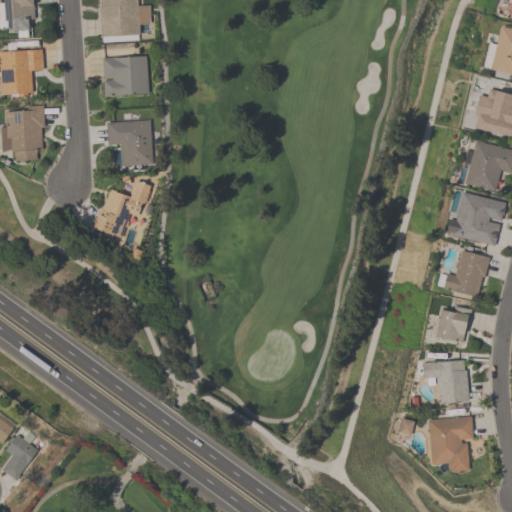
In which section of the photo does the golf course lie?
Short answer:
center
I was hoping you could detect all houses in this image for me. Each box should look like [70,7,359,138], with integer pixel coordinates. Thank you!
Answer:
[476,87,512,136]
[2,105,45,162]
[108,120,154,167]
[0,50,44,98]
[103,56,149,97]
[447,190,511,245]
[102,0,151,42]
[0,0,35,38]
[0,416,16,446]
[443,251,492,300]
[465,140,512,192]
[436,304,472,342]
[93,174,153,237]
[429,416,475,472]
[492,26,512,79]
[424,362,470,404]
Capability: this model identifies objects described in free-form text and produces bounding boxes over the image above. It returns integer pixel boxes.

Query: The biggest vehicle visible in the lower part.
[16,344,57,376]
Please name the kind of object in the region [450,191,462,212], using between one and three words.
swimming pool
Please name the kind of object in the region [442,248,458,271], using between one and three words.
swimming pool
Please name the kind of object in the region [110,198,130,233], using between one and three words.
solar array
